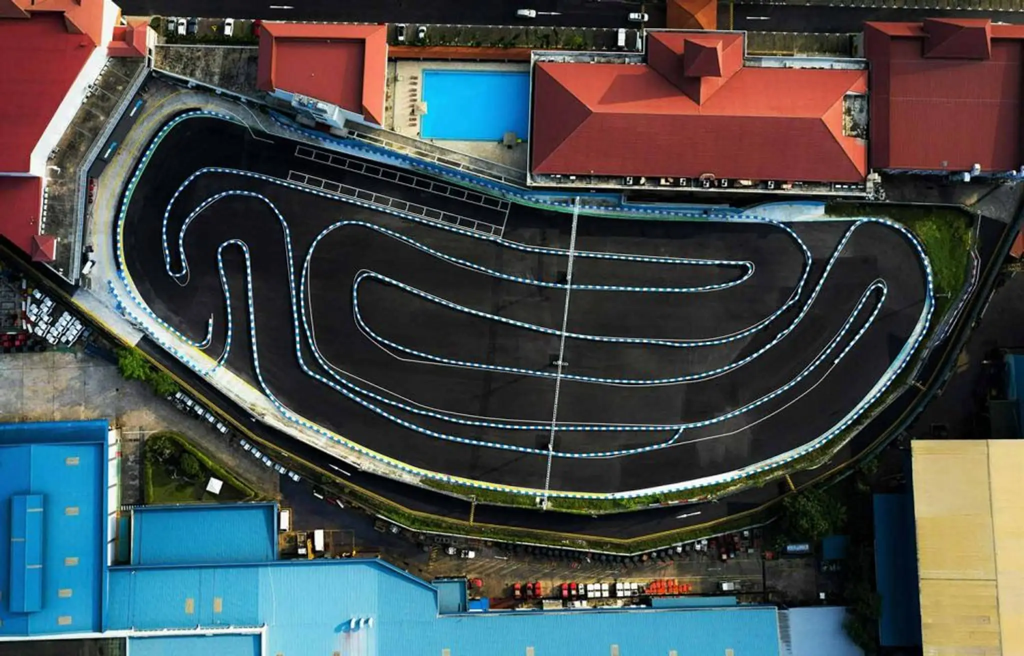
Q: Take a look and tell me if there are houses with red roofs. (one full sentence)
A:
Yes, there's a house with a red roof down there.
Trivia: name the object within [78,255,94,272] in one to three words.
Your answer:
vehicle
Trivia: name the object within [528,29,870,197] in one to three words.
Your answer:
building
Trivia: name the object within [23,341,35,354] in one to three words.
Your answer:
vehicle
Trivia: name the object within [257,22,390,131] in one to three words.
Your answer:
house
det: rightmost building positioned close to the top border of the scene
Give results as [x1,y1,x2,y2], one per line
[847,18,1024,181]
